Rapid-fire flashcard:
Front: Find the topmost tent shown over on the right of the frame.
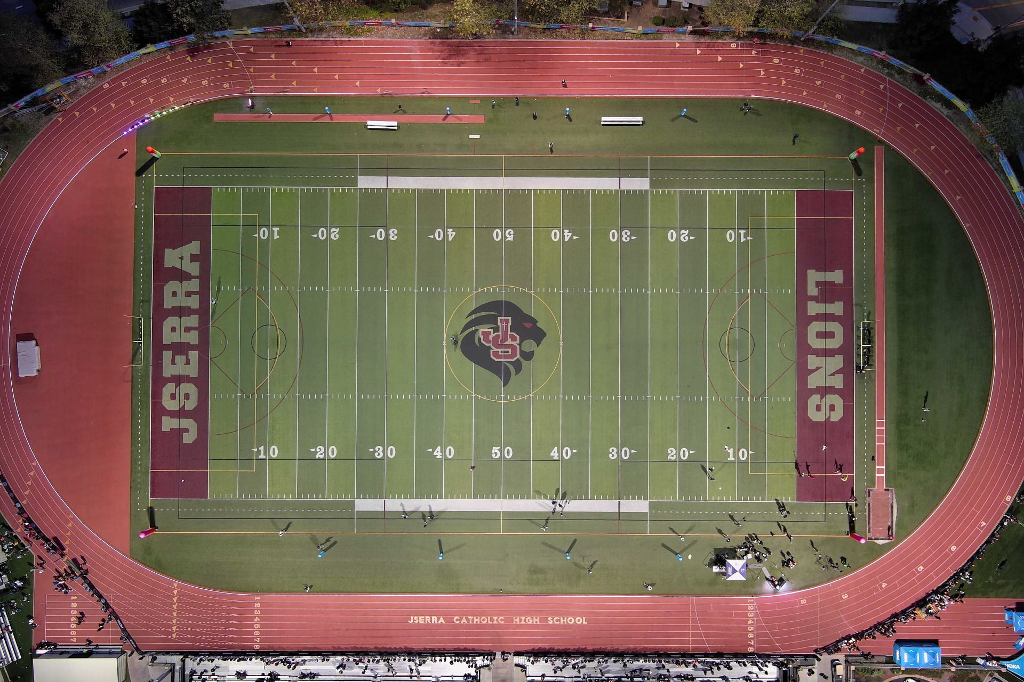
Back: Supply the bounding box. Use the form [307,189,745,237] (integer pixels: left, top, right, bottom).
[722,556,746,580]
